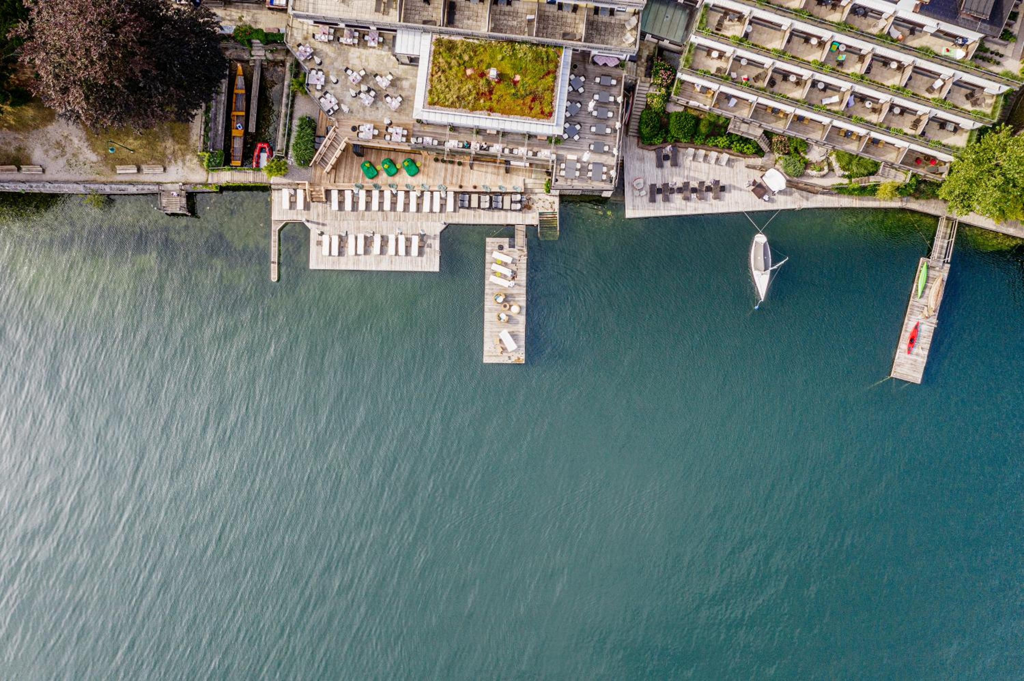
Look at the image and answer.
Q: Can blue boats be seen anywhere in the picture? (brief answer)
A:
No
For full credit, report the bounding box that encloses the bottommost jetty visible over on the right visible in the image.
[890,258,950,384]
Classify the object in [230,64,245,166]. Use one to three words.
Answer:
boat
